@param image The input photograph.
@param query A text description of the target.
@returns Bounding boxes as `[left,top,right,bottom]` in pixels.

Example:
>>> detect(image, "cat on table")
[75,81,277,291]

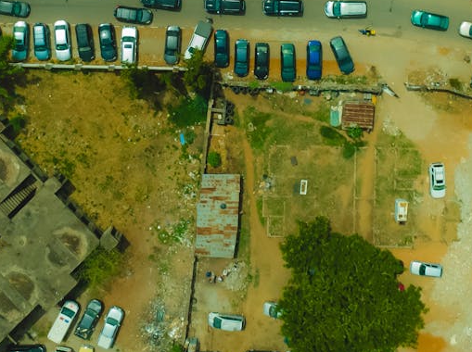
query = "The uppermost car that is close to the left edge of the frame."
[0,0,31,17]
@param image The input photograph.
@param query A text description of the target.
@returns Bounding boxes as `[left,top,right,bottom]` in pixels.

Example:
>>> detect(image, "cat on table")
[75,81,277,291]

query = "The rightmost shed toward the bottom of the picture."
[195,171,240,258]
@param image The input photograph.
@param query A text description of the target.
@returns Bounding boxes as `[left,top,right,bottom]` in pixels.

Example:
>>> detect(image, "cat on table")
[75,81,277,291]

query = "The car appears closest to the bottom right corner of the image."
[411,259,443,278]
